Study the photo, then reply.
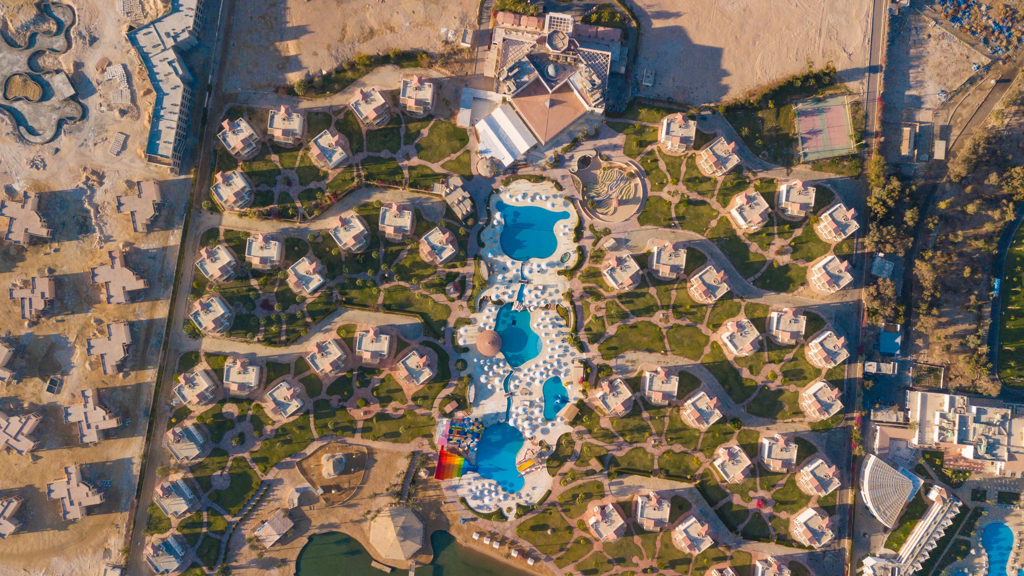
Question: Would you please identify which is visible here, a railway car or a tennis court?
tennis court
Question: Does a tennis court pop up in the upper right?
Yes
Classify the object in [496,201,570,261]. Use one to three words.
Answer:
swimming pool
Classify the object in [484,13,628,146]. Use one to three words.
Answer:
building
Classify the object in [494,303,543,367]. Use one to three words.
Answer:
swimming pool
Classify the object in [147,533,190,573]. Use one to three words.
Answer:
house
